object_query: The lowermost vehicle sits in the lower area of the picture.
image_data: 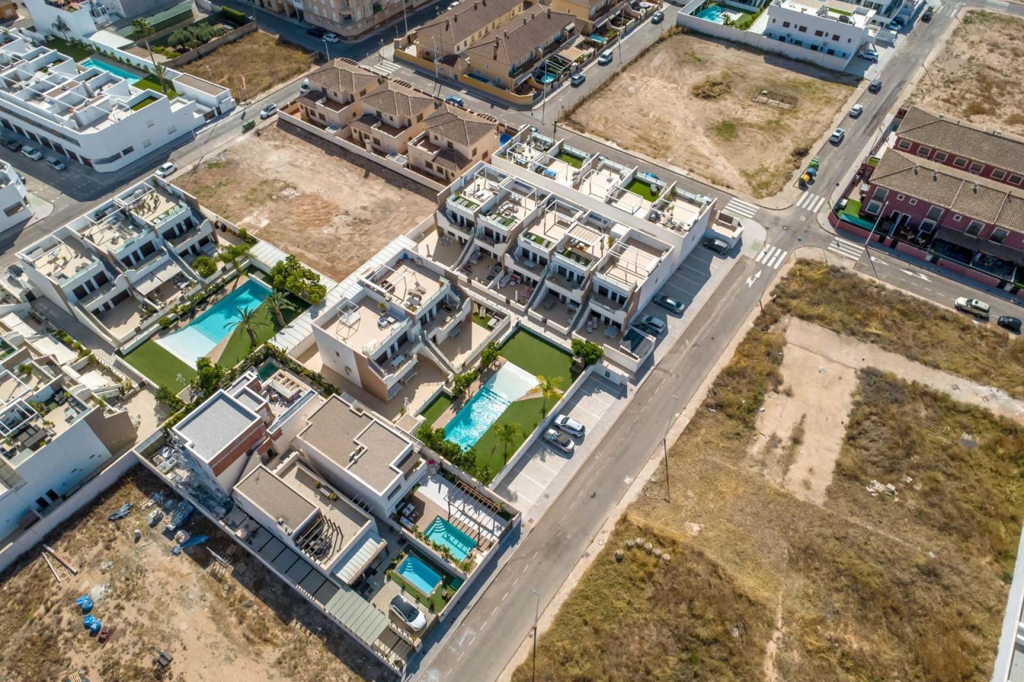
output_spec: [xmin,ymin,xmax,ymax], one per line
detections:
[387,595,427,632]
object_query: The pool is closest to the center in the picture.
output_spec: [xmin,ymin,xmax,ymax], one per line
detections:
[441,362,535,450]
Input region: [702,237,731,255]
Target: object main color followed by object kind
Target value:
black car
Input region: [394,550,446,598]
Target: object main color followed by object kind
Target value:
blue swimming pool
